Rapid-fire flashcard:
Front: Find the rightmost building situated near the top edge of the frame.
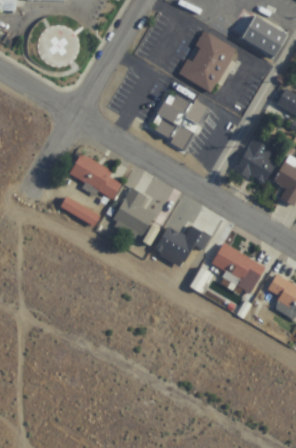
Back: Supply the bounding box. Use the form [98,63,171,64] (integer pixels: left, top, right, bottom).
[244,14,288,58]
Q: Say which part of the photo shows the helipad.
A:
top left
